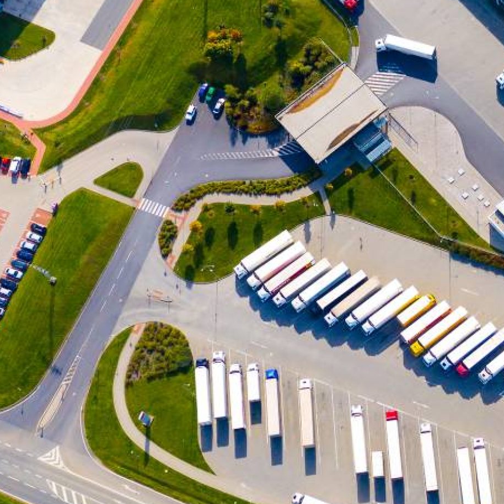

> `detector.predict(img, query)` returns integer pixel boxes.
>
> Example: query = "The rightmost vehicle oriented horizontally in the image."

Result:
[376,40,438,62]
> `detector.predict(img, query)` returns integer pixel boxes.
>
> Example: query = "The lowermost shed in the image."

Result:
[485,209,504,239]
